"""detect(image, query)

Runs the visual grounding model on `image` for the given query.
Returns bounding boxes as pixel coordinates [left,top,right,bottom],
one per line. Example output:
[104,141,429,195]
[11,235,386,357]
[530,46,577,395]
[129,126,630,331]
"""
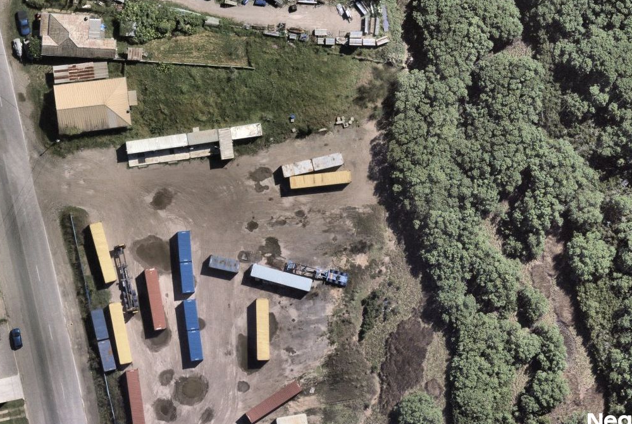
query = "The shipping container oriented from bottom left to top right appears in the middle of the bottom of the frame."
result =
[245,379,304,424]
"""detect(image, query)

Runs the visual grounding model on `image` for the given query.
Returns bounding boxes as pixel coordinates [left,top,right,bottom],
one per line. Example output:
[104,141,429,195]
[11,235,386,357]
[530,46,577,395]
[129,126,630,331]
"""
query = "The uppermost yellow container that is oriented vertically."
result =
[90,220,116,283]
